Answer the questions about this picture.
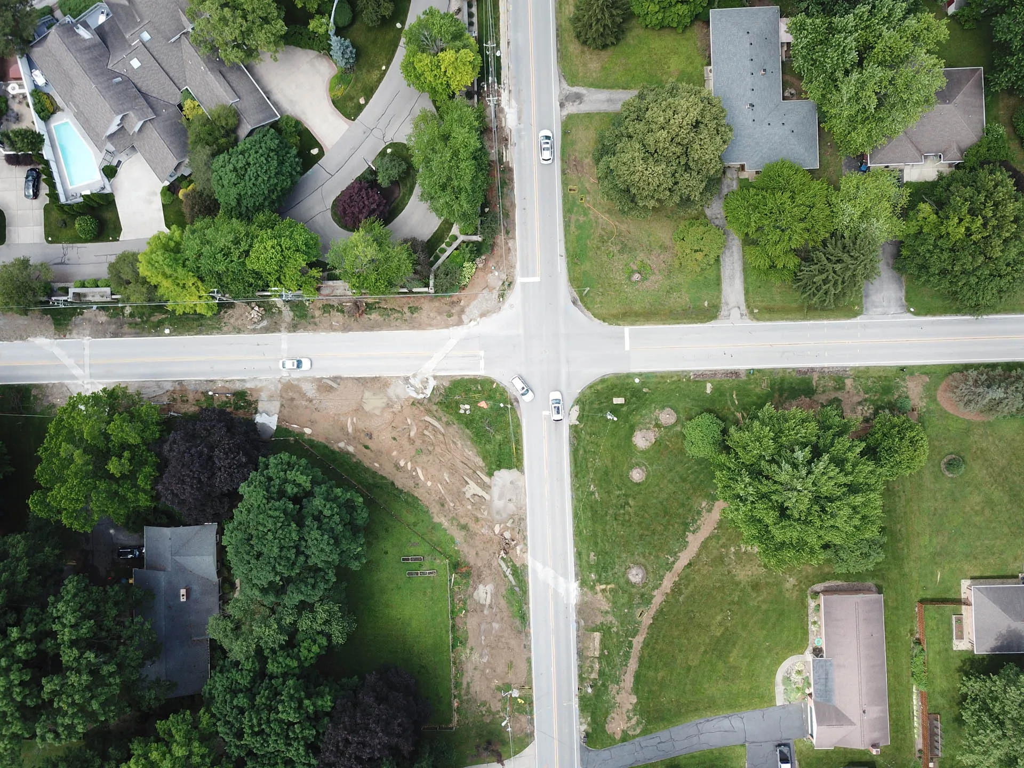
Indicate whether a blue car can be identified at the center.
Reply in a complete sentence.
No, I see no blue car at the center.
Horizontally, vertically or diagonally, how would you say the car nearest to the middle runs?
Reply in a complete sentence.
In this picture, the car nearest to the middle is oriented diagonally.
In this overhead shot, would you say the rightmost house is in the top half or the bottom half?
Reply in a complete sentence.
The rightmost house sits in the bottom half of the picture.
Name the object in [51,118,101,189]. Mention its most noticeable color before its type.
white swimming pool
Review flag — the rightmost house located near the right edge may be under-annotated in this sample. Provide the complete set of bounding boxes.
[965,584,1024,654]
